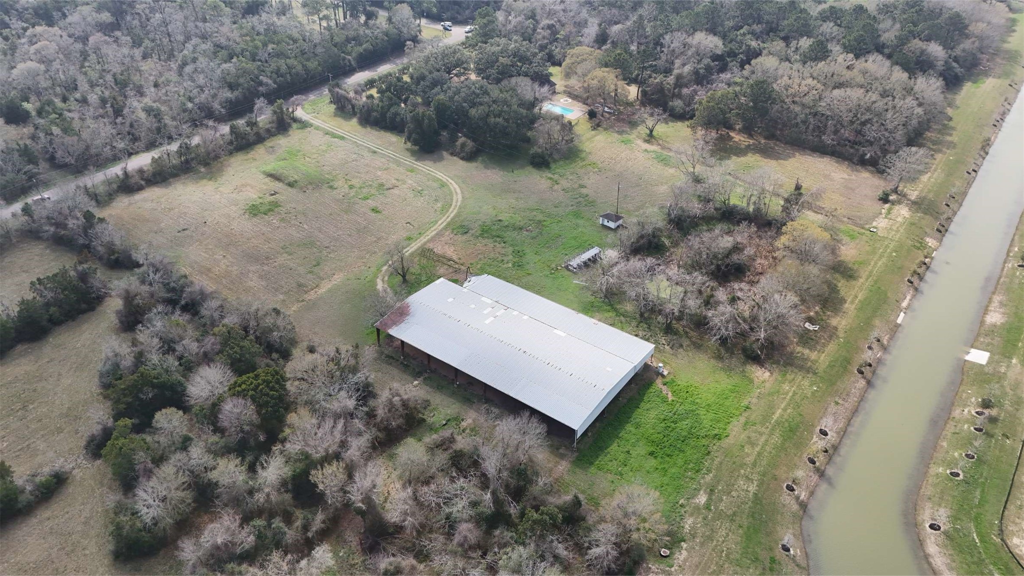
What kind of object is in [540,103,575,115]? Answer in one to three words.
swimming pool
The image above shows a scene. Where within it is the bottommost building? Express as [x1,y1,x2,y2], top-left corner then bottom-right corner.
[374,265,657,449]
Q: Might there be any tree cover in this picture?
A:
Yes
